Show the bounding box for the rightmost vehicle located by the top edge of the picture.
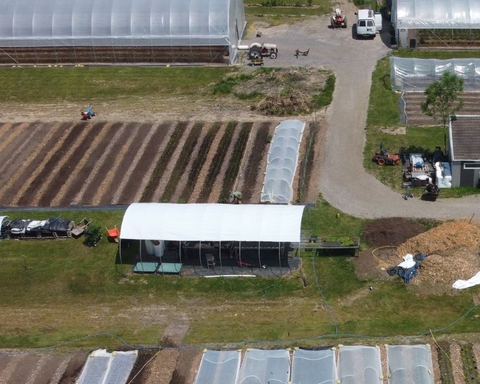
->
[357,8,387,36]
